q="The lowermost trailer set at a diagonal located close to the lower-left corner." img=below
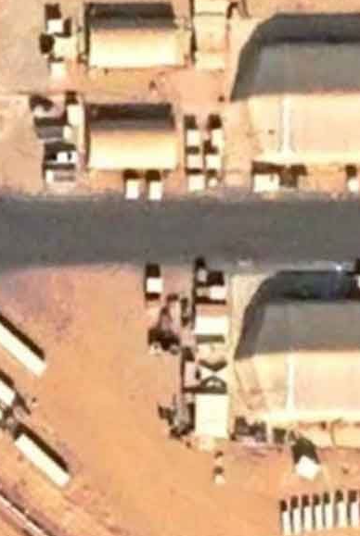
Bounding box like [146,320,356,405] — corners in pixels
[14,435,69,487]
